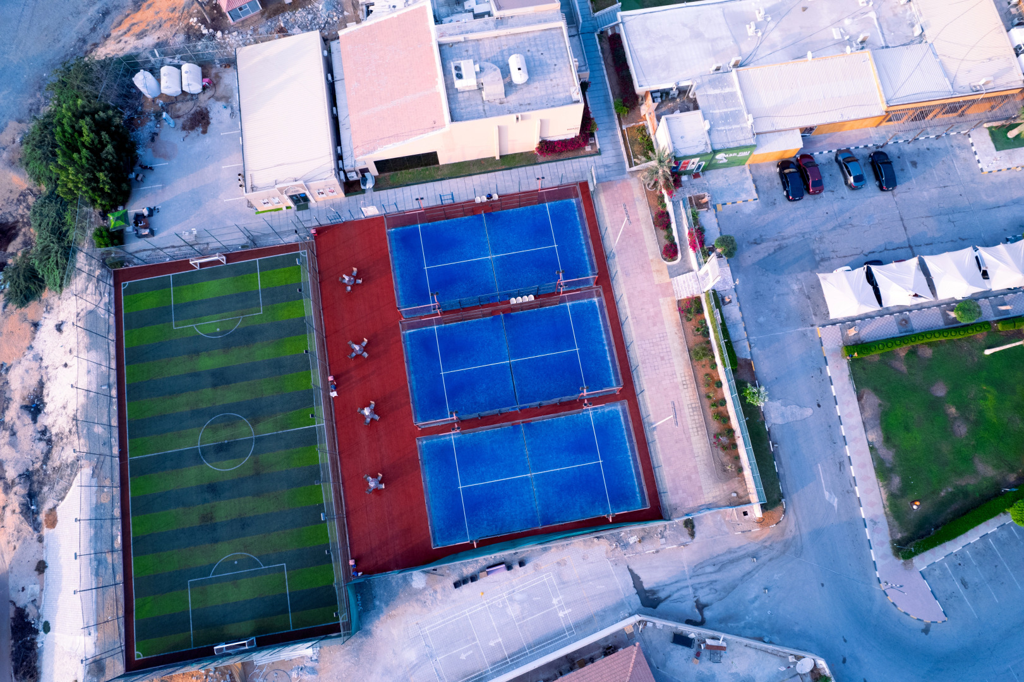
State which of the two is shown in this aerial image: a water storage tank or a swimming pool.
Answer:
water storage tank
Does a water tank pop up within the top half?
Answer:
Yes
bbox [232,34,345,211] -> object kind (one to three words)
building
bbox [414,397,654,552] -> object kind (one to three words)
sports court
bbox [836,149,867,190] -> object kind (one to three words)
car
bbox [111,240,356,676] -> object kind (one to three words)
soccer field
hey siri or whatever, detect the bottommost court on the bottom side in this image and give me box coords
[417,556,598,682]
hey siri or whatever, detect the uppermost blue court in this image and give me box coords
[384,177,600,318]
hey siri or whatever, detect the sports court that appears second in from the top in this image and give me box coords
[398,284,625,430]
